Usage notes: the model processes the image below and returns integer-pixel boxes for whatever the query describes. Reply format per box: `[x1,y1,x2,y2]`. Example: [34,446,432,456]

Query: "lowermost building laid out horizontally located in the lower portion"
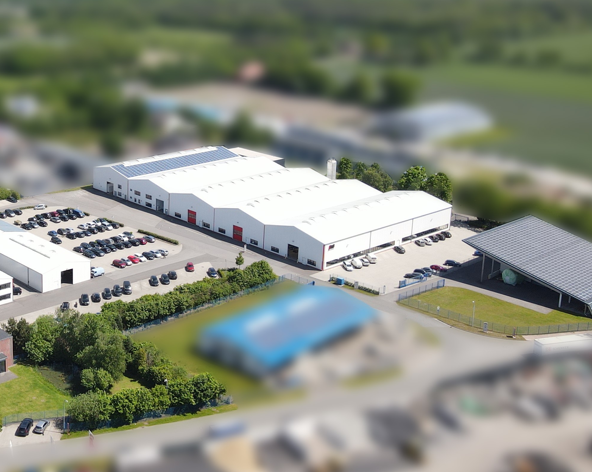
[194,294,385,392]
